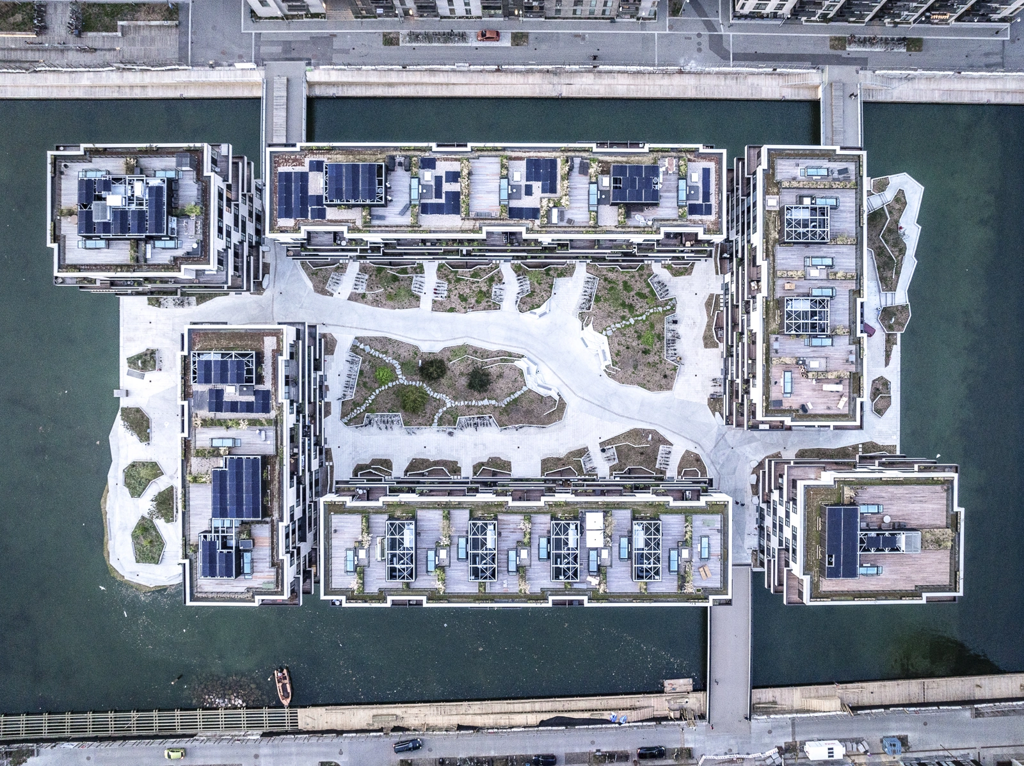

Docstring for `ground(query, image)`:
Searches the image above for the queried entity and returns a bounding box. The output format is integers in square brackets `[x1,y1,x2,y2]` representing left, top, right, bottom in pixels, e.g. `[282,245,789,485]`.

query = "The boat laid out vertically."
[274,666,291,707]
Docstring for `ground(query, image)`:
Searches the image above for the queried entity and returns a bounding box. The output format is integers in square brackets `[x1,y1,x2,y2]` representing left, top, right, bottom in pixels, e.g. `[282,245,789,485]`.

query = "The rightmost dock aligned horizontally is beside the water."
[754,671,1024,716]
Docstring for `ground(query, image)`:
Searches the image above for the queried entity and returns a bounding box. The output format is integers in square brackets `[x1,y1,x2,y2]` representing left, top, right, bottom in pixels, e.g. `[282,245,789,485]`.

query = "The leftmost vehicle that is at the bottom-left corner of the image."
[163,749,184,762]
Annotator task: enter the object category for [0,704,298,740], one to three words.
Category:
pier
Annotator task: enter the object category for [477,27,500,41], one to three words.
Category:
car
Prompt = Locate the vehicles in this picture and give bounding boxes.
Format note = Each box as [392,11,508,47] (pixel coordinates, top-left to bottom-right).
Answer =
[477,27,500,41]
[394,740,420,756]
[163,749,184,762]
[533,756,556,766]
[638,748,665,762]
